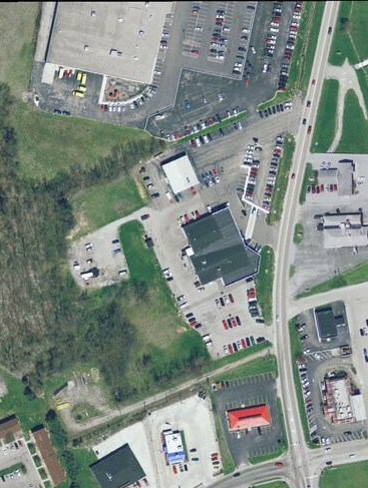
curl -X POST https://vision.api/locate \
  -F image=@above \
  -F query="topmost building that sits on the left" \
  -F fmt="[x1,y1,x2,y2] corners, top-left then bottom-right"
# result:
[47,0,172,84]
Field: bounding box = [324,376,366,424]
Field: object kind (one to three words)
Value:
building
